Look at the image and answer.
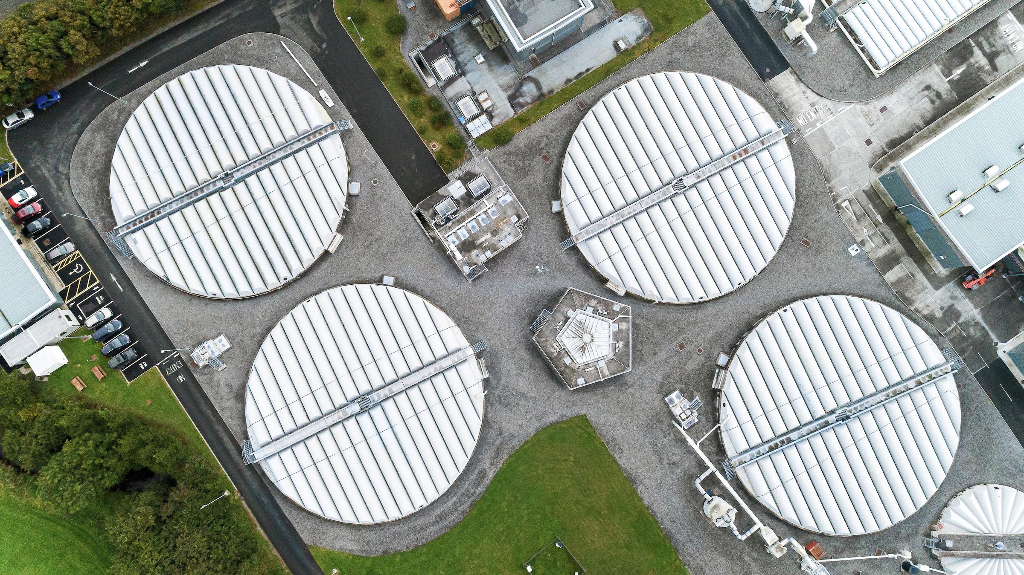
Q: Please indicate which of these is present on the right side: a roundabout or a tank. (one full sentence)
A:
The one visible on the right side is a tank.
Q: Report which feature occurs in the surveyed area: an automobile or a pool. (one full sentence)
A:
The image shows an automobile.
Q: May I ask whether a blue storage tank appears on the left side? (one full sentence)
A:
No, the scene shows no blue storage tank on the left side.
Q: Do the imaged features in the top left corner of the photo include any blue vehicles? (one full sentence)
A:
Yes, in the top left corner of the photo there is a blue vehicle.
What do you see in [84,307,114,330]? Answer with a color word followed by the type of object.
white car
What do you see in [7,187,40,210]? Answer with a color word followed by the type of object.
white car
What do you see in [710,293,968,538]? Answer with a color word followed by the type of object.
white storage tank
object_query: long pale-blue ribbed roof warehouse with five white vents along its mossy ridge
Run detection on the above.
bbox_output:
[878,81,1024,274]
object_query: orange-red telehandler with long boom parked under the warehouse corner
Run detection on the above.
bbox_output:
[959,260,1015,295]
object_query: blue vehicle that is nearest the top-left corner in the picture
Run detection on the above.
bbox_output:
[34,90,64,110]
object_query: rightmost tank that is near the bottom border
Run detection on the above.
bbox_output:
[921,479,1024,575]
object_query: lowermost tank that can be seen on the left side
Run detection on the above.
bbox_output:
[240,275,489,526]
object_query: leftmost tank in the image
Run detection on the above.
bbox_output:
[105,59,362,302]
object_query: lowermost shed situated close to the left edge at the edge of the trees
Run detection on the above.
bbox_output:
[20,345,78,381]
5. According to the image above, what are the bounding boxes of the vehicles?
[0,161,20,183]
[84,307,114,330]
[93,319,124,342]
[45,241,77,263]
[959,260,1015,295]
[7,187,40,210]
[34,90,64,110]
[106,346,140,371]
[21,216,53,238]
[11,202,44,225]
[100,333,132,357]
[2,108,36,129]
